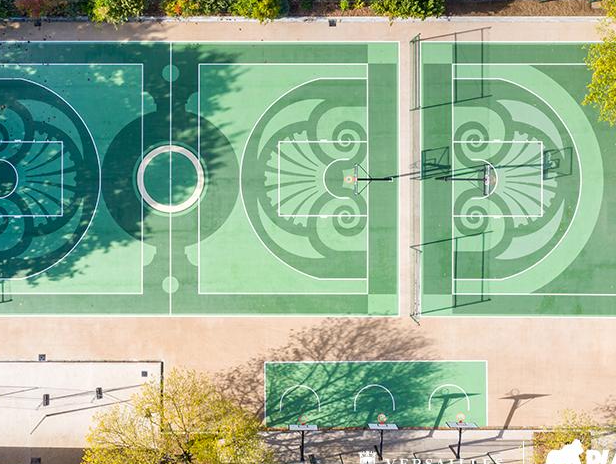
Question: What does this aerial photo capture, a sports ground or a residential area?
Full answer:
The area seen from above is a sports ground.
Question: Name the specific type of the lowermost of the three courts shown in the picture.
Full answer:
It looks like the lowermost of the three courts is a basketball court.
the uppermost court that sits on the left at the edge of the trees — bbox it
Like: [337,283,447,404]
[0,41,399,317]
